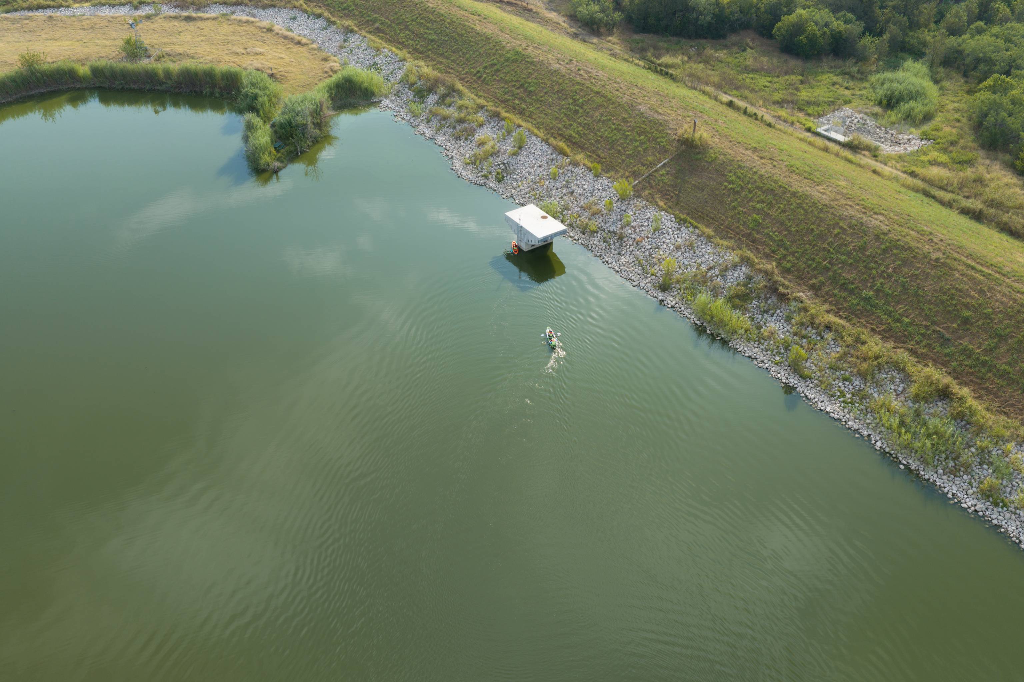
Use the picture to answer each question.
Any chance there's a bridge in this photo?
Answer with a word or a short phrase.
No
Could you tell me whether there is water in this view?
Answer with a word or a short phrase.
Yes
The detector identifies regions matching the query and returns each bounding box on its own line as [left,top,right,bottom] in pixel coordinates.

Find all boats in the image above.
[511,238,519,253]
[546,324,556,348]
